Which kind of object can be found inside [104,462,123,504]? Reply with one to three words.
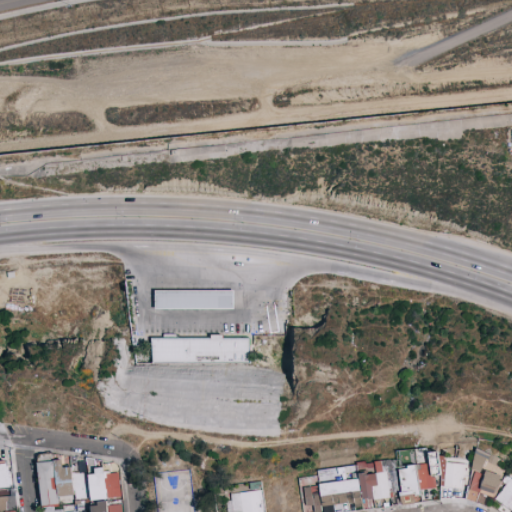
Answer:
house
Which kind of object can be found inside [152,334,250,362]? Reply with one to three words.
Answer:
building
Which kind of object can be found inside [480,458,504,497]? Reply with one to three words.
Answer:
house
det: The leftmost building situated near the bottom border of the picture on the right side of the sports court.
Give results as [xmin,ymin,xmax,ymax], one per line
[228,480,264,512]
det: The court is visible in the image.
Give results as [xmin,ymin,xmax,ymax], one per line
[155,470,194,512]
